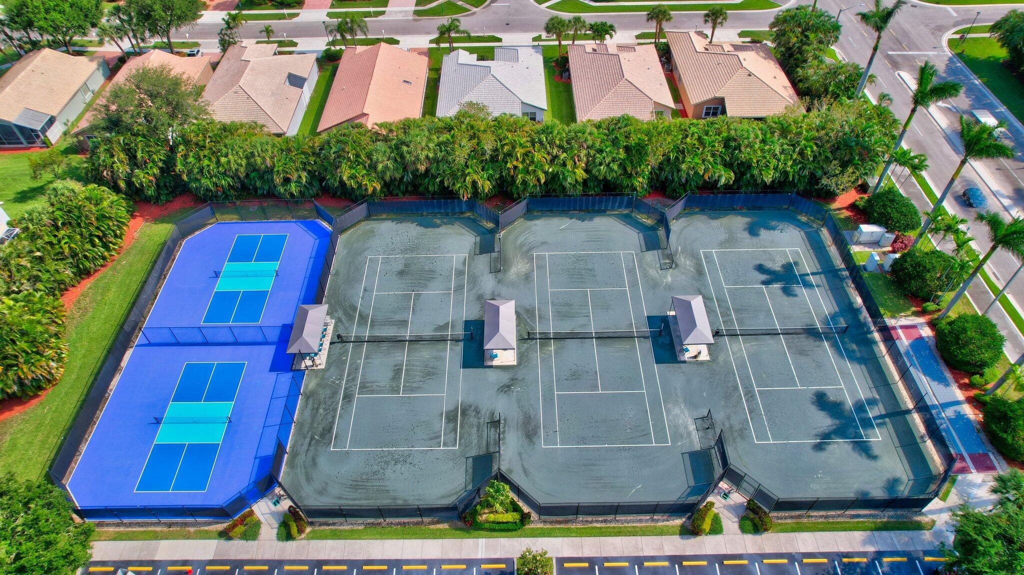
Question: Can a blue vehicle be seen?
Yes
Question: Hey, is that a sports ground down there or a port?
sports ground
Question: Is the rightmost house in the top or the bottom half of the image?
top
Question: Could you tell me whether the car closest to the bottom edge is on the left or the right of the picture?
right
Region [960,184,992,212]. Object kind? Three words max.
car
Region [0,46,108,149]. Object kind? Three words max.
house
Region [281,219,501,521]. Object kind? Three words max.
tennis court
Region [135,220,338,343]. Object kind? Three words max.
sports court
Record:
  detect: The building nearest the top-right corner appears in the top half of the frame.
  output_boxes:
[666,30,806,132]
